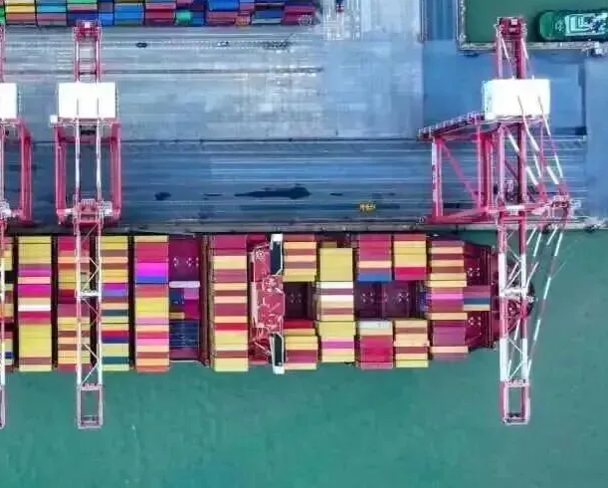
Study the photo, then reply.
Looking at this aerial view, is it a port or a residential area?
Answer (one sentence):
What you see here is a port.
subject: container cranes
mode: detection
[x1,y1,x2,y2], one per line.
[419,17,576,427]
[0,19,39,429]
[49,19,123,429]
